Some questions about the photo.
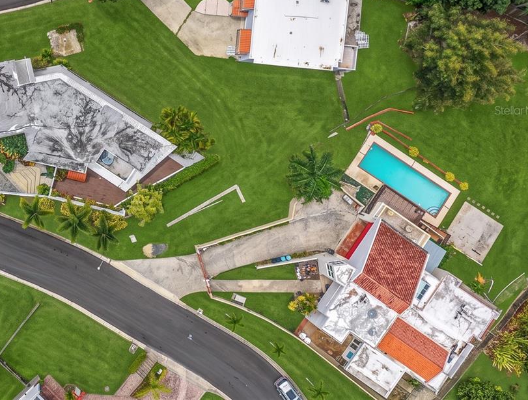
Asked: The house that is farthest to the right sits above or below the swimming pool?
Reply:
below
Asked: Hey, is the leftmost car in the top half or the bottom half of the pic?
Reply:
bottom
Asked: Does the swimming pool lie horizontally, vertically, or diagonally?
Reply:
diagonally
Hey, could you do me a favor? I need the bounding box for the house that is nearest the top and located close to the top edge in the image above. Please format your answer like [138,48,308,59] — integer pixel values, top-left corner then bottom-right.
[227,0,358,70]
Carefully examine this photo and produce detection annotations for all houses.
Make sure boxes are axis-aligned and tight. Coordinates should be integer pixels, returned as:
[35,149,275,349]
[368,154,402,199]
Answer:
[0,58,178,193]
[17,372,43,400]
[227,0,358,70]
[305,204,504,399]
